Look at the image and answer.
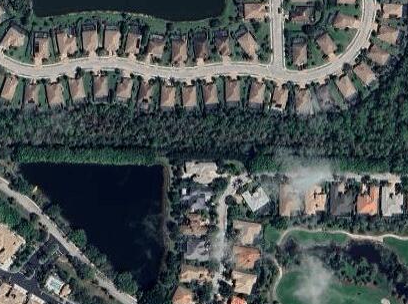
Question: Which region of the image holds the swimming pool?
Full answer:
You can find the swimming pool in the bottom left area of the picture.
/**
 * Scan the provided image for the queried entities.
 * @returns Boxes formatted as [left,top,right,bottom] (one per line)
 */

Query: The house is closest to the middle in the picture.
[186,160,216,185]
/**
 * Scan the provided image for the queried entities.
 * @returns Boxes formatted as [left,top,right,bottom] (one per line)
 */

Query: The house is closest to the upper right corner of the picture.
[383,3,408,18]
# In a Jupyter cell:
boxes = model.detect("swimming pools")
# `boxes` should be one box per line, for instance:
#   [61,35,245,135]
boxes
[45,276,65,296]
